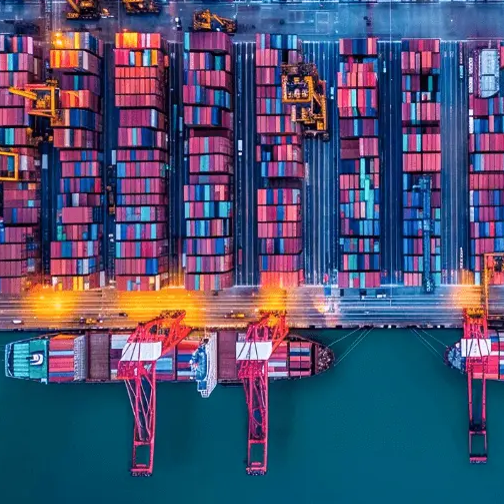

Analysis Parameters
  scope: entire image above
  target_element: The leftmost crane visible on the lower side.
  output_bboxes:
[110,305,195,481]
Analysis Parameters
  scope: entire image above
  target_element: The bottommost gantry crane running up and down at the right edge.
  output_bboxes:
[454,305,497,467]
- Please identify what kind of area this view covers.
port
